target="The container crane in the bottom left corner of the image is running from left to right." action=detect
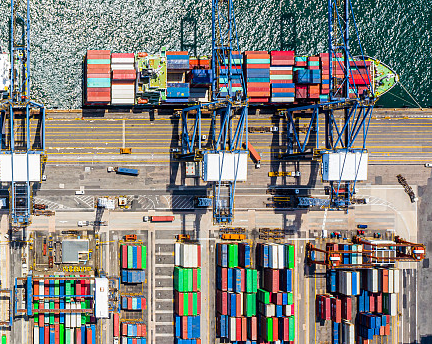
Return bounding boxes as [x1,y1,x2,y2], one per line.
[15,267,120,317]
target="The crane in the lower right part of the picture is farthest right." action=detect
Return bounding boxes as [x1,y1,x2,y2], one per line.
[356,237,430,263]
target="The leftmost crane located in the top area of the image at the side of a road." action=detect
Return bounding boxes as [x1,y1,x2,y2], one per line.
[0,0,49,226]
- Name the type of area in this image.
port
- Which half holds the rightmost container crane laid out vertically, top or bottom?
top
